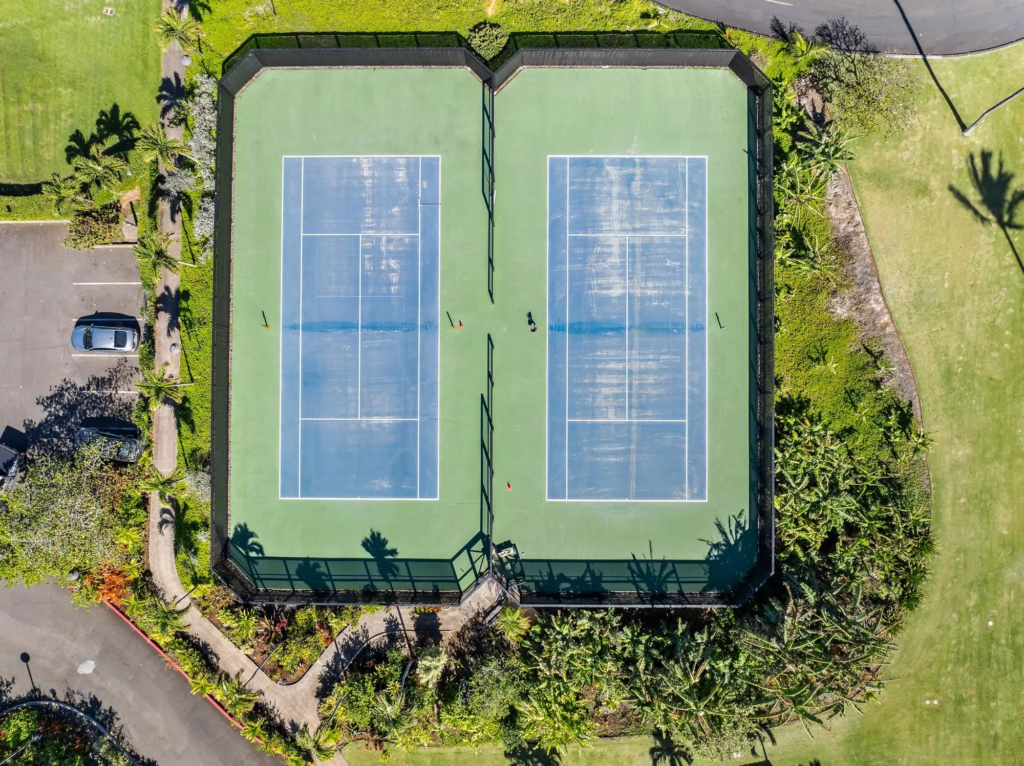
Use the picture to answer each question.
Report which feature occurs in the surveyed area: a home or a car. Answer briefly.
car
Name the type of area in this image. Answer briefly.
sports ground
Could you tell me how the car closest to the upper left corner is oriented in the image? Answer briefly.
horizontally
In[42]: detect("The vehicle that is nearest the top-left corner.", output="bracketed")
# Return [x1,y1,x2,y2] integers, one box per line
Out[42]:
[67,317,138,349]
